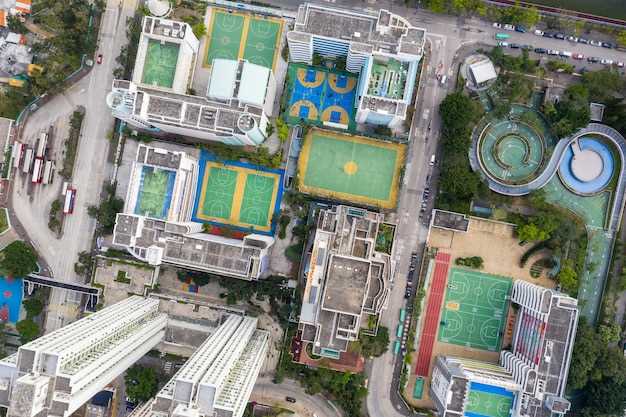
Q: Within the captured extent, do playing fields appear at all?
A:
Yes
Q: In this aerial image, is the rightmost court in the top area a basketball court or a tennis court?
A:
basketball court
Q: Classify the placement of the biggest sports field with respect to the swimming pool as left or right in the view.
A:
on its left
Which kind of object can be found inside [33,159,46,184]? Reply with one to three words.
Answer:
vehicle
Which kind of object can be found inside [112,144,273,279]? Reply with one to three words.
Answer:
building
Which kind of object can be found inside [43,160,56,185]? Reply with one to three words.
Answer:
vehicle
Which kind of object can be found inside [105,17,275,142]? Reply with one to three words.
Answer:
building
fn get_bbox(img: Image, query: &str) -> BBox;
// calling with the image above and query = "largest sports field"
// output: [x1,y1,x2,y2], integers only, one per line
[300,128,408,208]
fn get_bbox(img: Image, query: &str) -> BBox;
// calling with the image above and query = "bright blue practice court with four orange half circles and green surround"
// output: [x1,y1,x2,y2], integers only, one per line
[279,62,361,131]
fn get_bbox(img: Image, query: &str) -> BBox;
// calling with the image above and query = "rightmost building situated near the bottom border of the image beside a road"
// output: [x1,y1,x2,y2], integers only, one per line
[427,279,580,417]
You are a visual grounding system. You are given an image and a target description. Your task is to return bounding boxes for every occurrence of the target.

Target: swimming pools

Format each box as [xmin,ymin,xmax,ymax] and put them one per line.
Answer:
[558,136,613,193]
